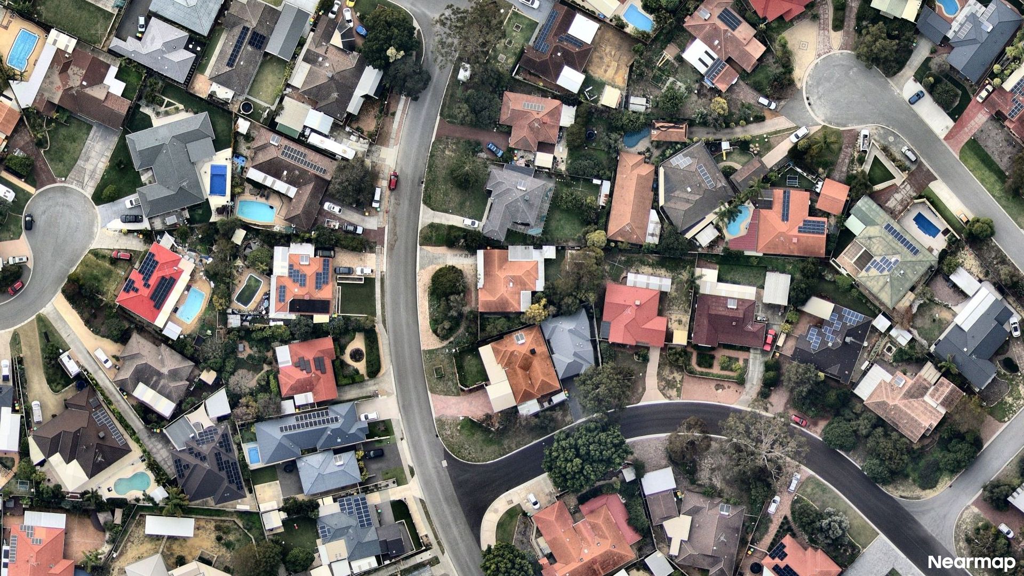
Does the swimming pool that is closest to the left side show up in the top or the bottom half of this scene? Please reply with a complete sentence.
The swimming pool that is closest to the left side sits in the top half of the picture.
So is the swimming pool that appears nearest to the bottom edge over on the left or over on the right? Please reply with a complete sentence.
It is on the left.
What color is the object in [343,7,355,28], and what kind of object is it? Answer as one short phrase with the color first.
white vehicle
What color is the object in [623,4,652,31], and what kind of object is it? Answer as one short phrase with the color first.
blue swimming pool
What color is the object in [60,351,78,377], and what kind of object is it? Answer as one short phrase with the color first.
white camper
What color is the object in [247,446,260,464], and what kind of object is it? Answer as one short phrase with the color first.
blue swimming pool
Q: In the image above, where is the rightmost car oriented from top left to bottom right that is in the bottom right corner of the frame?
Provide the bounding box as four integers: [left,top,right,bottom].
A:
[998,522,1015,539]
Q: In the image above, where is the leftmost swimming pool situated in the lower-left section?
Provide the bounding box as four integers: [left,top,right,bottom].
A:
[114,471,152,496]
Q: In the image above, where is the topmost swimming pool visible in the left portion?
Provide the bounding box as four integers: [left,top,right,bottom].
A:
[6,28,40,72]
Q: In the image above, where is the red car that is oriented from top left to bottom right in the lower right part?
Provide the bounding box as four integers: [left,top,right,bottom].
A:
[790,413,809,429]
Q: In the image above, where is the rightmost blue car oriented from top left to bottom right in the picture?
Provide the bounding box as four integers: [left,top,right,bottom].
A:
[485,141,504,159]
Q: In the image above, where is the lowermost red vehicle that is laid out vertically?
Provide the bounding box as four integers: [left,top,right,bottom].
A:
[764,328,776,352]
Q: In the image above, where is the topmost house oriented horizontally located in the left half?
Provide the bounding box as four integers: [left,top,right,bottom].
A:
[147,0,225,35]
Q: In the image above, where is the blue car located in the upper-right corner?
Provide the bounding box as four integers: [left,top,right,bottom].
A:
[908,90,926,105]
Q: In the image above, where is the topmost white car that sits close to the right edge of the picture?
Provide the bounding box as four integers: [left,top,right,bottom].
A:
[976,84,994,103]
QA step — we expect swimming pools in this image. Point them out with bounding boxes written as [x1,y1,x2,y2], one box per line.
[209,164,227,196]
[624,130,645,149]
[176,287,206,324]
[6,28,40,72]
[247,446,260,464]
[913,212,941,238]
[623,4,652,31]
[114,471,152,496]
[233,274,264,308]
[939,0,960,17]
[727,205,752,237]
[237,200,276,223]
